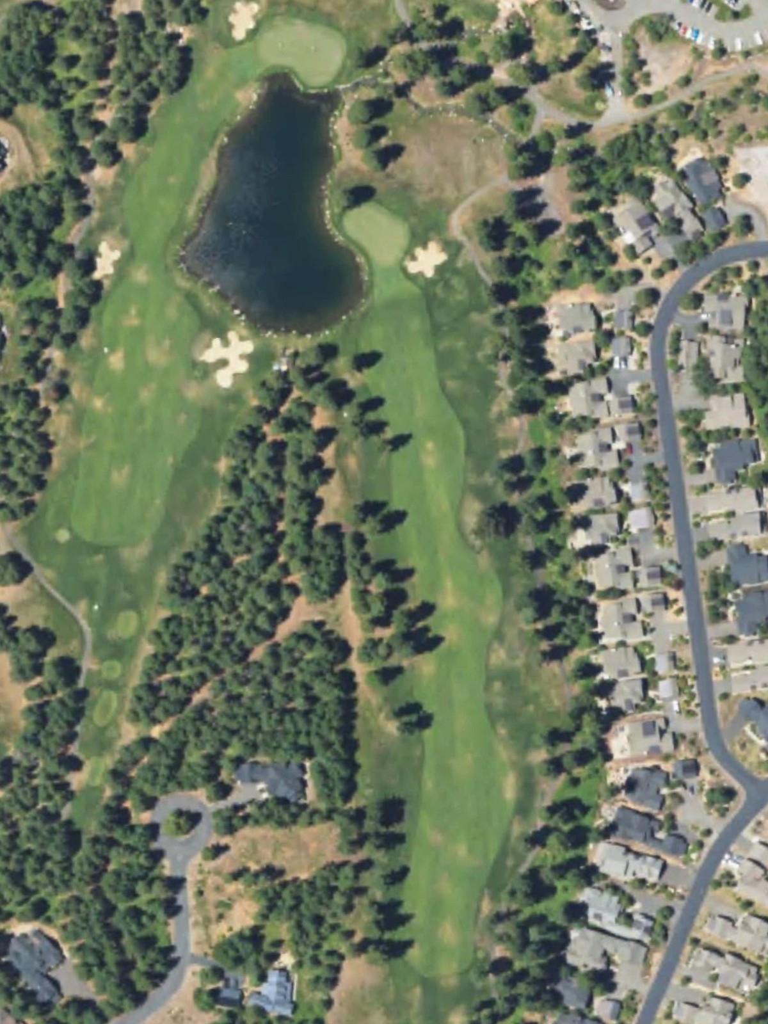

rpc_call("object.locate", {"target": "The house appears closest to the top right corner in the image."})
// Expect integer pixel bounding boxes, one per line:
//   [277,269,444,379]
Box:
[683,157,723,204]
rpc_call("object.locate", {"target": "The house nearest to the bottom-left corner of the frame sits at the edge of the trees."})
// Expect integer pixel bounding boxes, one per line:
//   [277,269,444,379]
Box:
[4,927,61,1005]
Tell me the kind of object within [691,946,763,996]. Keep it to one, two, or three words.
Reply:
house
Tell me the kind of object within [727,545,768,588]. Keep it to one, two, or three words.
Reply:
house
